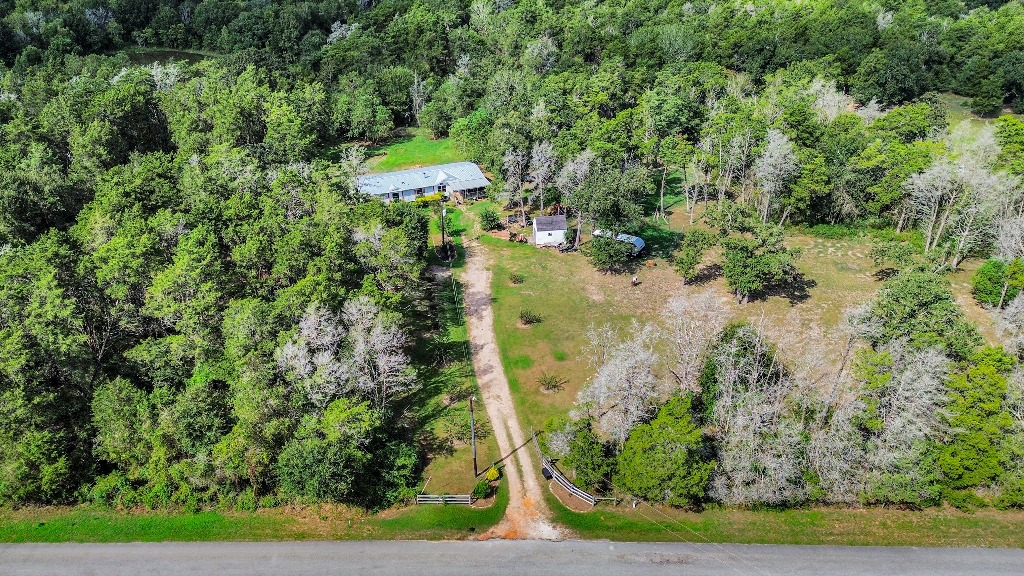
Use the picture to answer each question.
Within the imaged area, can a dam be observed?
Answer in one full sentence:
No, no dam is visible in the scene.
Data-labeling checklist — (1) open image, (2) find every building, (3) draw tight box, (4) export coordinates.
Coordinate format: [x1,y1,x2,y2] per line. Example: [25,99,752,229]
[357,161,491,209]
[525,214,568,246]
